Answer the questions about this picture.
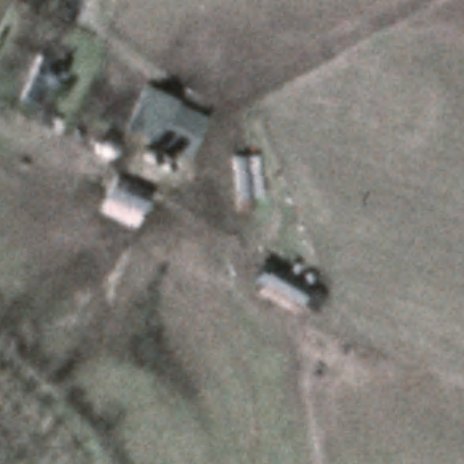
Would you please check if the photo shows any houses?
Yes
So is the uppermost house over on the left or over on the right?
left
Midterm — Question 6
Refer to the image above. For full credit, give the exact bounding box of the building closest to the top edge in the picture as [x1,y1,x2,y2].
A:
[21,55,72,108]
